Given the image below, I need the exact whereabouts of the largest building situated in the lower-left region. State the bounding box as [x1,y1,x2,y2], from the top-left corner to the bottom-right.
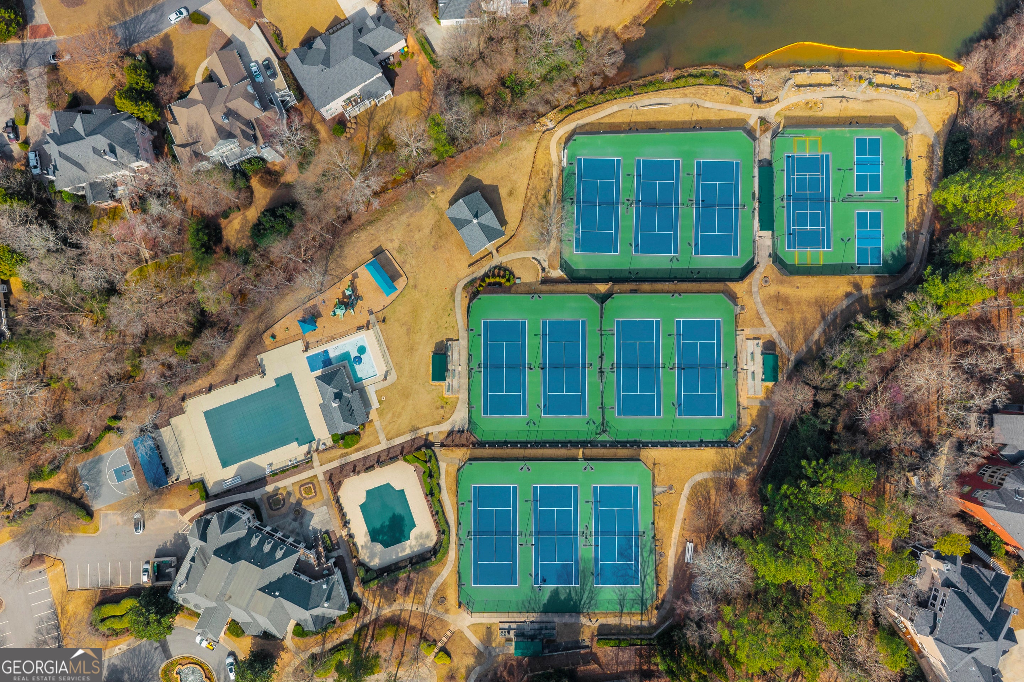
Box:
[169,504,352,647]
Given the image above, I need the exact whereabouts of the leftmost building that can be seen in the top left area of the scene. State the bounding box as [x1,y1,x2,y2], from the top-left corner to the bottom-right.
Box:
[41,109,155,206]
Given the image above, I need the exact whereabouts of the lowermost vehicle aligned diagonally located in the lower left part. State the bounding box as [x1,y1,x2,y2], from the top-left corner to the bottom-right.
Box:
[194,636,218,655]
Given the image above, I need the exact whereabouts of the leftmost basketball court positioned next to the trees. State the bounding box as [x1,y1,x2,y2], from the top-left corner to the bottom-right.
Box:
[77,447,140,510]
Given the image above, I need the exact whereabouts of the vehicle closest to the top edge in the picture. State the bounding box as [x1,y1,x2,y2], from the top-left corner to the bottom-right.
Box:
[167,5,187,21]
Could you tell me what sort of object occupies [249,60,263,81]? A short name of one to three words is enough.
car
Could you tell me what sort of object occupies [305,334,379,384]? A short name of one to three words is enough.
swimming pool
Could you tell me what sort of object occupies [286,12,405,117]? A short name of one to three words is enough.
house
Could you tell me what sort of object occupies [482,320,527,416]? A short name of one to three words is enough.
tennis court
